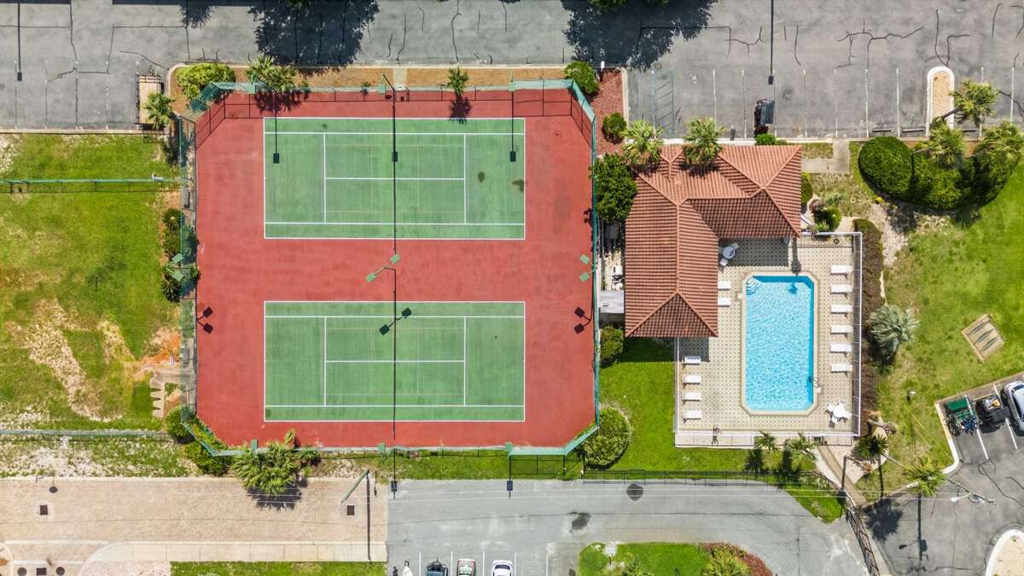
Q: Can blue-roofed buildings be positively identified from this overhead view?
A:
No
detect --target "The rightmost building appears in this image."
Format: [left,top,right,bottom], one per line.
[625,144,802,338]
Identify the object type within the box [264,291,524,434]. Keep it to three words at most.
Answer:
tennis court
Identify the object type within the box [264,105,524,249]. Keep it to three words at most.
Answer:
tennis court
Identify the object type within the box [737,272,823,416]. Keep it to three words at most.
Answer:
swimming pool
